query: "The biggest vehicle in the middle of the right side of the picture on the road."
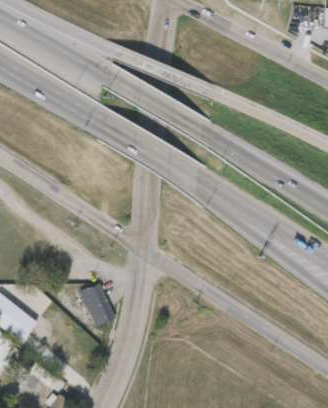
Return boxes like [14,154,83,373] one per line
[294,238,313,252]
